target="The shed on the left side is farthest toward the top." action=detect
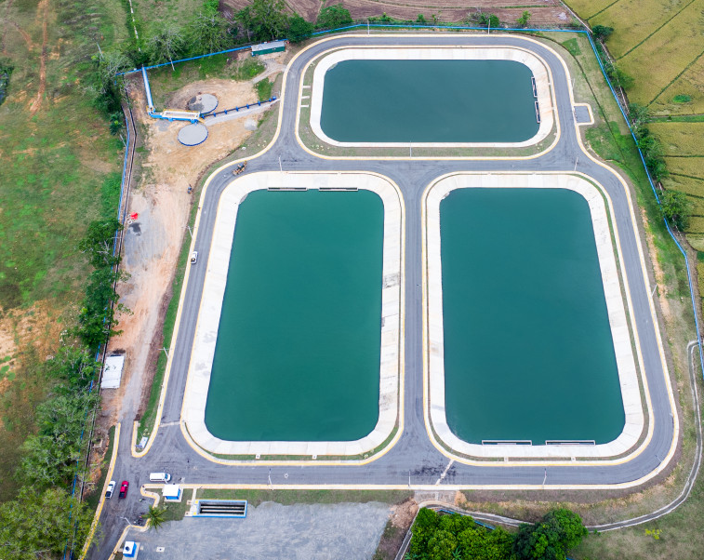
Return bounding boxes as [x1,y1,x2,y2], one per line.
[250,41,285,56]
